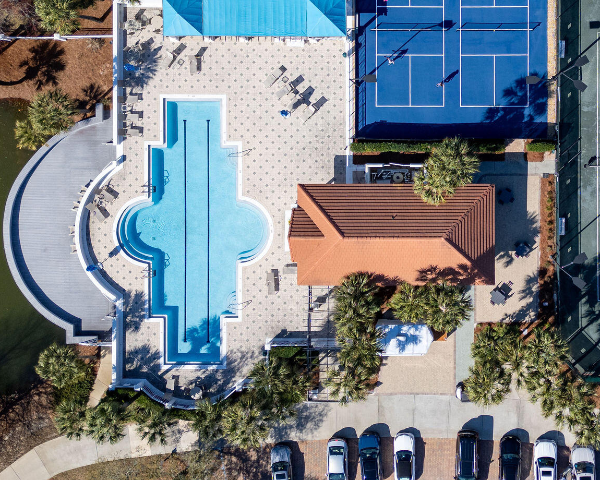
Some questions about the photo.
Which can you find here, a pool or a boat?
pool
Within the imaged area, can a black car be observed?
Yes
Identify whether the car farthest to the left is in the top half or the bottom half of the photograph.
bottom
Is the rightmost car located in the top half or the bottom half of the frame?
bottom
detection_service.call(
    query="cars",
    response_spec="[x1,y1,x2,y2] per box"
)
[454,429,481,480]
[498,435,524,480]
[325,438,350,480]
[532,438,559,480]
[267,445,293,480]
[357,431,383,480]
[562,445,597,480]
[390,432,417,480]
